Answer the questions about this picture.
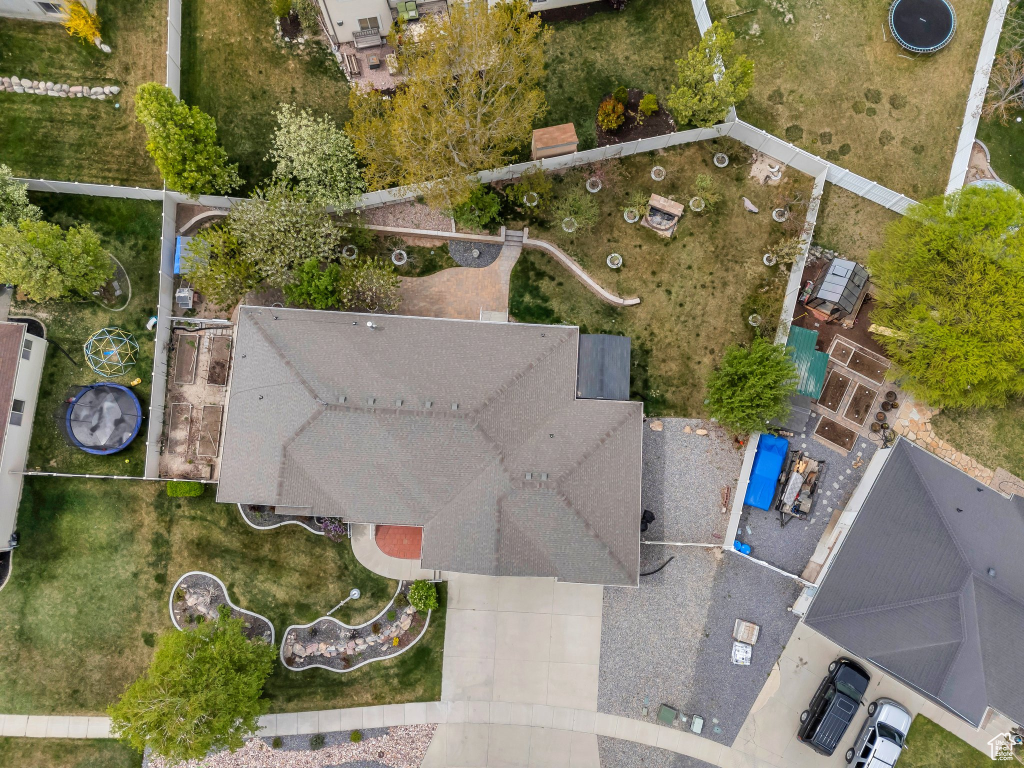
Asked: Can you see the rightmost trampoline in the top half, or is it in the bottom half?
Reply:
top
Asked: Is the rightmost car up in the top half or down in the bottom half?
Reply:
bottom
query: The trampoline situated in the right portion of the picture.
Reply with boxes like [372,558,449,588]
[885,0,953,60]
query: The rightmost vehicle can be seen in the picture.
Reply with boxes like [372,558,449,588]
[847,698,915,768]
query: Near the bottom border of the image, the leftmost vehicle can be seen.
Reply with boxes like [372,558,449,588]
[800,657,874,758]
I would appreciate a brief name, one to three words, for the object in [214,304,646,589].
house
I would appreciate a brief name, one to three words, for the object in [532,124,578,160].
shed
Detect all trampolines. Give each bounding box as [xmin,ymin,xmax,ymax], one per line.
[51,378,150,458]
[885,0,953,60]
